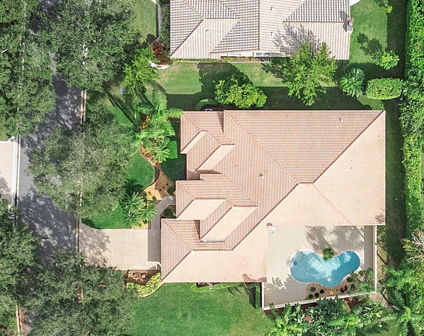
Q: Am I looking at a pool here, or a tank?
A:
pool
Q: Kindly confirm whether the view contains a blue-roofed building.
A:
No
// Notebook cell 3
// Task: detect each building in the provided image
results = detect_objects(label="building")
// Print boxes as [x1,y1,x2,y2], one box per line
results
[160,110,386,283]
[169,0,354,62]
